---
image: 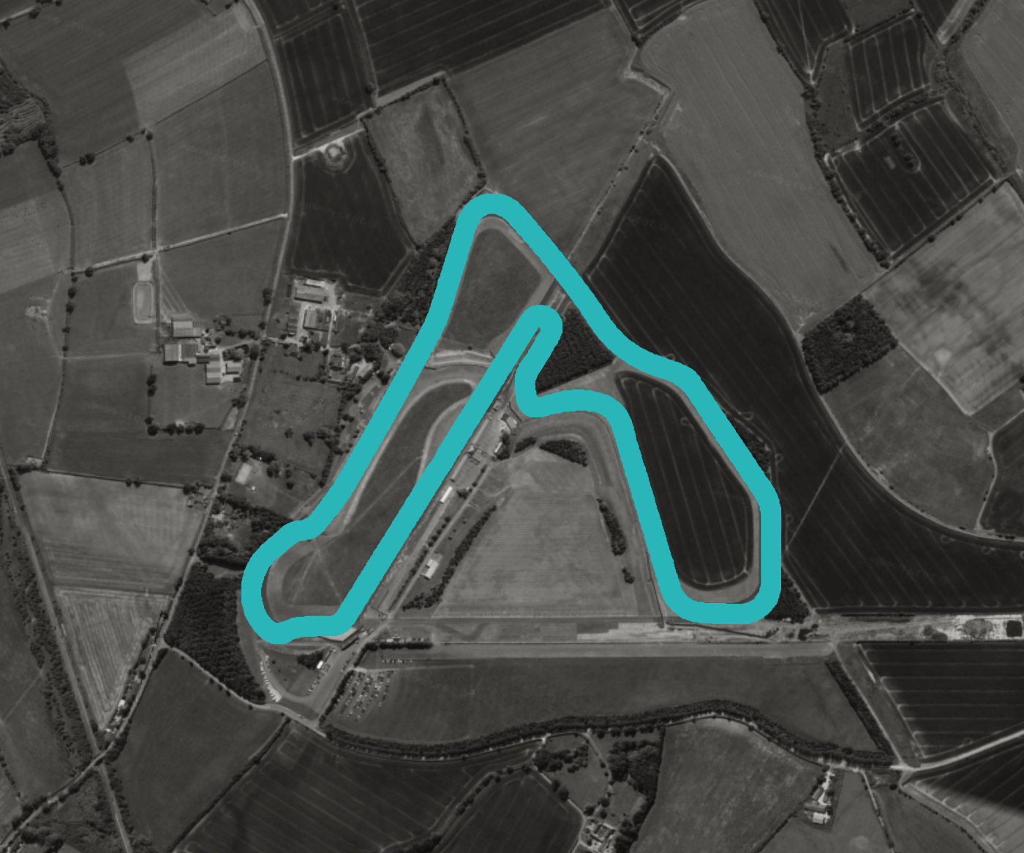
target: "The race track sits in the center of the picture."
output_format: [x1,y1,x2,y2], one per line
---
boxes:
[241,193,781,644]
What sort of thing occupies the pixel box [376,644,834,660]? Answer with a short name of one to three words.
runway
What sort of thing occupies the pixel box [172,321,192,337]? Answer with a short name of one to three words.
barn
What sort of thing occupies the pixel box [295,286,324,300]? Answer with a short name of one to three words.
barn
